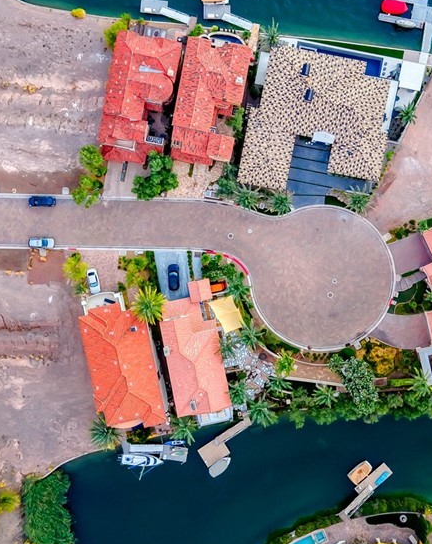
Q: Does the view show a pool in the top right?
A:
Yes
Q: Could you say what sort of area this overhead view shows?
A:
residential area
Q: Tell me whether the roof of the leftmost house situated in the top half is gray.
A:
No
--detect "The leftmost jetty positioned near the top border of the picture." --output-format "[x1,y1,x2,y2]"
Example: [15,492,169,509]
[140,0,197,36]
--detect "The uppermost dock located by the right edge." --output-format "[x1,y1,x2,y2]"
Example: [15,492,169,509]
[379,0,432,63]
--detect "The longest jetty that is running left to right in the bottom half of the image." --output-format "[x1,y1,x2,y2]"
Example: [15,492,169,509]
[121,441,188,462]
